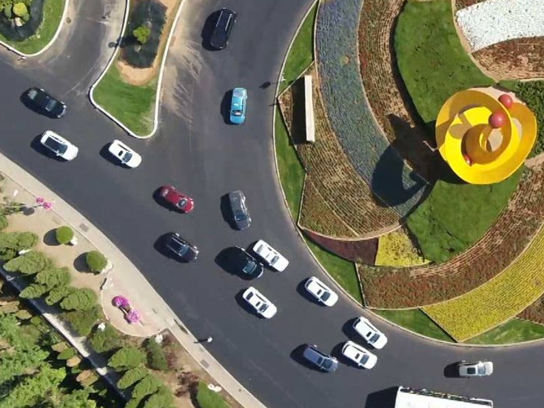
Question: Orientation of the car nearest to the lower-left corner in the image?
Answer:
on a diagonal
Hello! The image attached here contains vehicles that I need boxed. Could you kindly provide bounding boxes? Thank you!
[303,276,338,307]
[40,131,77,160]
[229,191,251,228]
[225,248,262,277]
[352,317,387,349]
[229,88,248,125]
[254,242,285,269]
[157,185,194,213]
[163,231,200,261]
[241,287,277,318]
[301,343,340,373]
[27,88,65,117]
[109,140,142,166]
[341,340,377,370]
[456,359,493,378]
[396,386,494,408]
